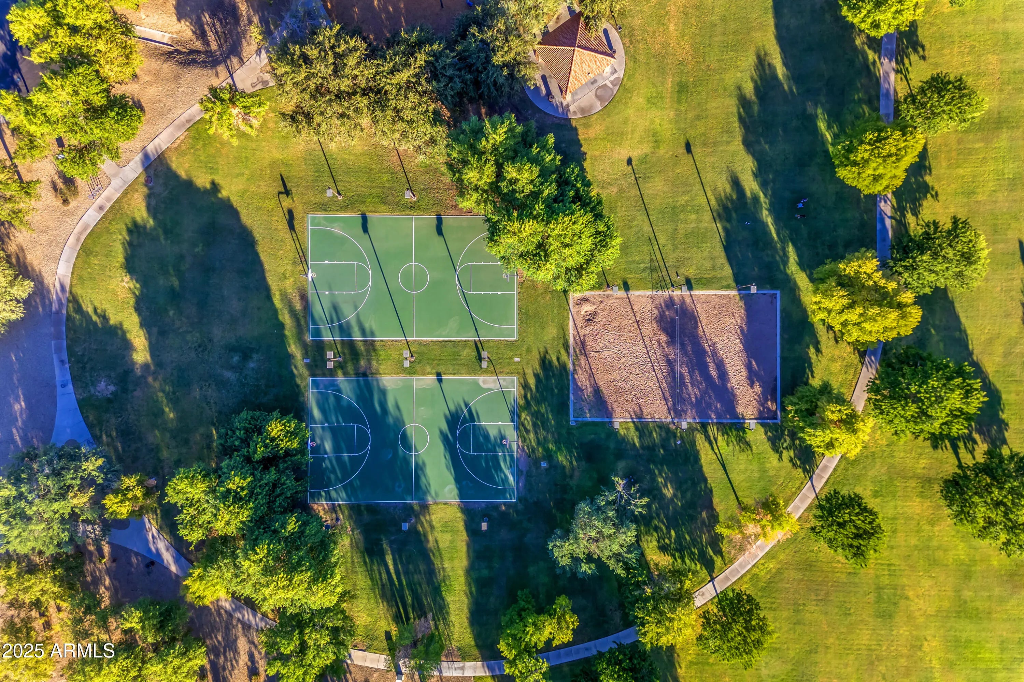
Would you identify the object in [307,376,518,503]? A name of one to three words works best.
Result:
basketball court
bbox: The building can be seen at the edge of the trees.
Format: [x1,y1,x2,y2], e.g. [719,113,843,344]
[532,17,617,101]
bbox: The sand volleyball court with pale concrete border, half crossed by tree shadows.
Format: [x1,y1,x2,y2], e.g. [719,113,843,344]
[570,291,780,422]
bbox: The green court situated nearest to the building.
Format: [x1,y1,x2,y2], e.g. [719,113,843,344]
[308,214,518,340]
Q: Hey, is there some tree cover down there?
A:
Yes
